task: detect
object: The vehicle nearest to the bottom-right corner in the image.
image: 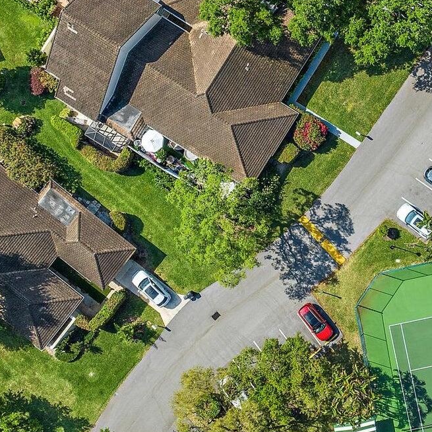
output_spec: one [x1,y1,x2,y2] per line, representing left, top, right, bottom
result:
[298,302,333,343]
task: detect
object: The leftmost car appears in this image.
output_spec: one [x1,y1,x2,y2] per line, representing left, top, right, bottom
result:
[131,270,173,310]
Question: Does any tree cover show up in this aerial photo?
Yes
